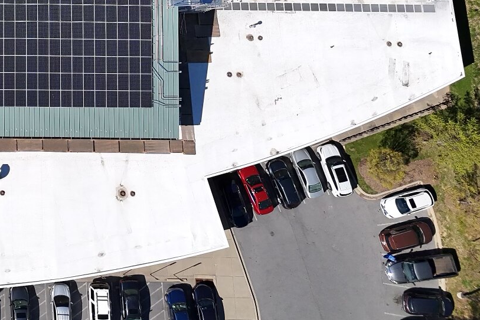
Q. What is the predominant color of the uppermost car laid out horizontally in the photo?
white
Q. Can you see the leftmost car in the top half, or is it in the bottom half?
bottom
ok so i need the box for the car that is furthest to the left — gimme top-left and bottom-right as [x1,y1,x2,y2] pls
[9,287,33,320]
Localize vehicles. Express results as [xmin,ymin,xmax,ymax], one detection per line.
[222,175,251,225]
[320,143,356,198]
[293,149,325,198]
[165,287,191,320]
[268,159,302,209]
[379,189,439,216]
[9,287,33,320]
[384,256,468,285]
[88,280,114,320]
[401,290,457,318]
[378,221,438,250]
[120,279,144,320]
[51,283,74,320]
[239,168,271,215]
